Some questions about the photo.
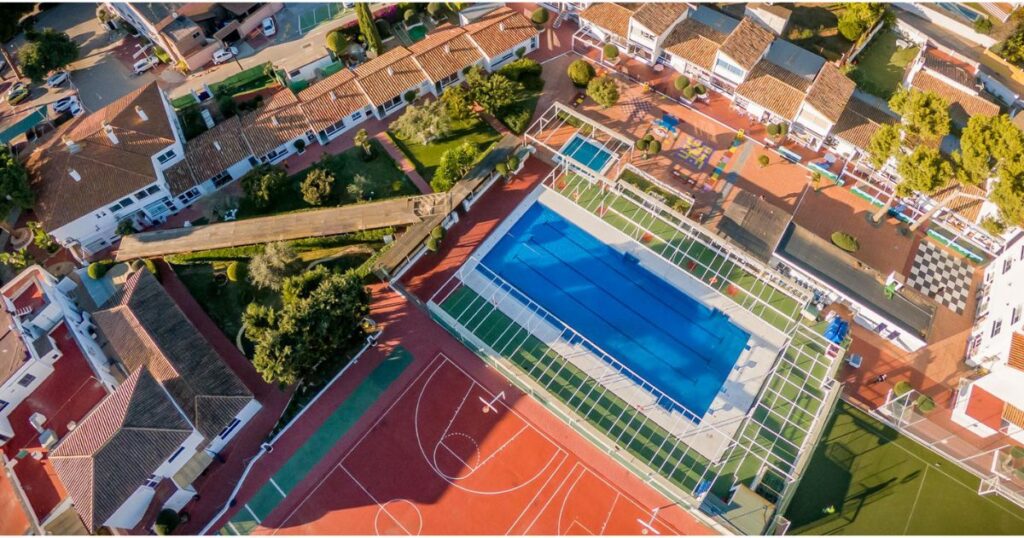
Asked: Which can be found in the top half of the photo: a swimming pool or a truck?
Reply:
swimming pool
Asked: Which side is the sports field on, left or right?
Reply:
right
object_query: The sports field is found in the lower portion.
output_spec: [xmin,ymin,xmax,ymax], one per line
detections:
[778,399,1024,538]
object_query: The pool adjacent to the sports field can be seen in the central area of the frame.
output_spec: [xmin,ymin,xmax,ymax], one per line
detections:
[477,199,756,426]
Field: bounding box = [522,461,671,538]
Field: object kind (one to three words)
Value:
basketball court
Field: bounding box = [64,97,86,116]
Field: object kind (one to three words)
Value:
car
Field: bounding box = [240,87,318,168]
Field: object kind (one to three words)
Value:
house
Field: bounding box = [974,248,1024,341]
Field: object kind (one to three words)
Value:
building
